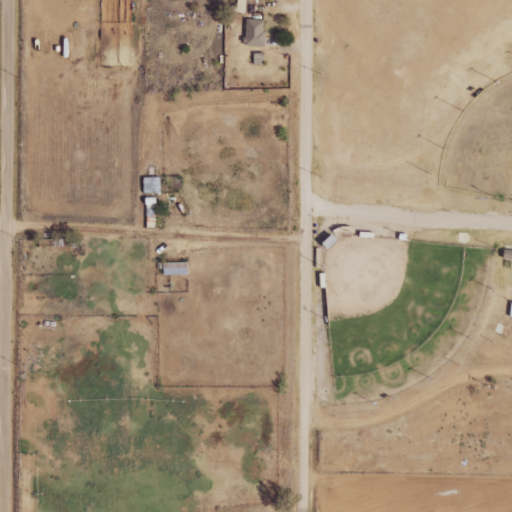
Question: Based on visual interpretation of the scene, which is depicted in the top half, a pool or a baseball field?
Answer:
baseball field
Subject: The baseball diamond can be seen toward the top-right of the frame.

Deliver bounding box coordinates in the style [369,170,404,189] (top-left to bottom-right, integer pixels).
[438,72,512,200]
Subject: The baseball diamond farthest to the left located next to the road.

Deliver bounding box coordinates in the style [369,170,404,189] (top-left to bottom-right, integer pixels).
[326,234,464,376]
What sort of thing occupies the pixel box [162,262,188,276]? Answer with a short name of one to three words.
shed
